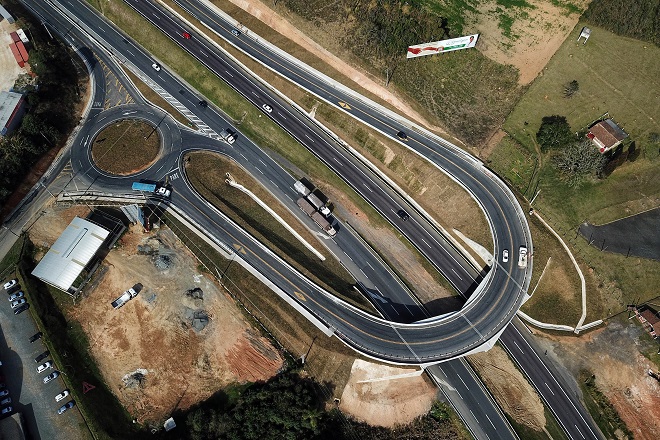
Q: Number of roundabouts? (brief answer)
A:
1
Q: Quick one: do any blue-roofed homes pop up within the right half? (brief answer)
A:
No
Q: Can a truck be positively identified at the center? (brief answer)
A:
Yes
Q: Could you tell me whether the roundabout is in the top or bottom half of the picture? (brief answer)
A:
top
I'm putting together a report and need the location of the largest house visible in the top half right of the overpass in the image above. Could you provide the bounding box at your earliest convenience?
[583,120,625,154]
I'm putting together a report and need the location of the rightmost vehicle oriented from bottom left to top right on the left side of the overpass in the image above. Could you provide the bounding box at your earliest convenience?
[113,287,138,309]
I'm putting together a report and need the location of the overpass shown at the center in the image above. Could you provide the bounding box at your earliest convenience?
[171,0,550,384]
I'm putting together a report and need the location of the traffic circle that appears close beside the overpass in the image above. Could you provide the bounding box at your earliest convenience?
[72,103,180,193]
